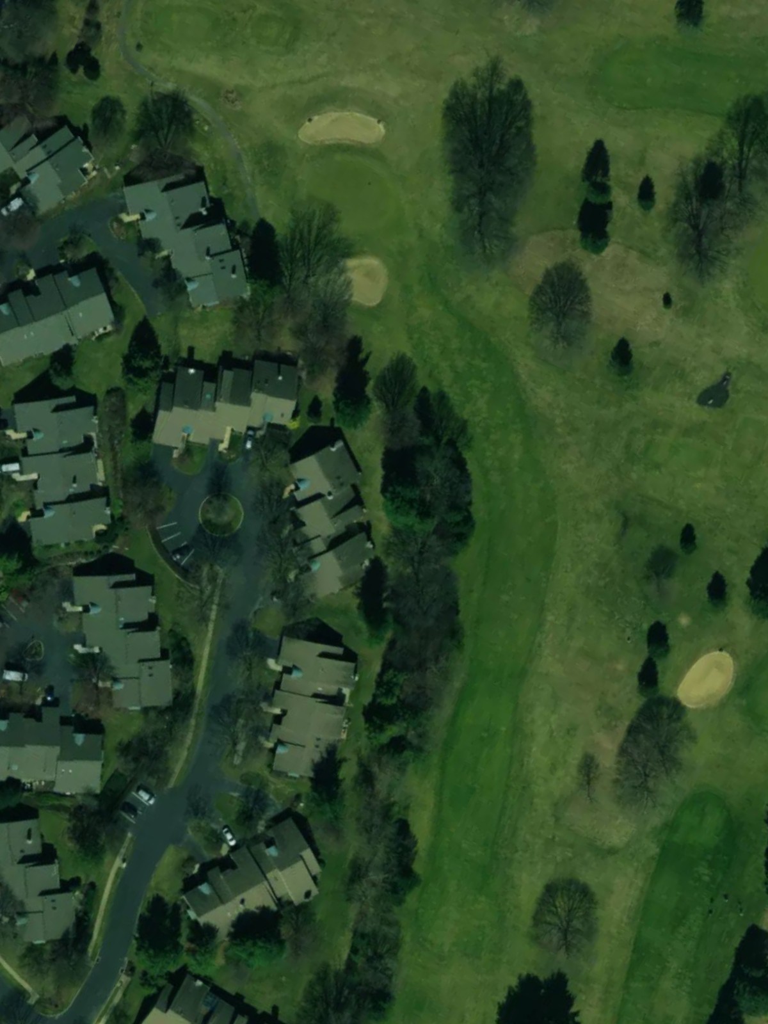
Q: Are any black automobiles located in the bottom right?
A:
No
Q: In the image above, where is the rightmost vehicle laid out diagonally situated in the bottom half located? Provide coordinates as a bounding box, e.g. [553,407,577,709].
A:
[221,825,238,847]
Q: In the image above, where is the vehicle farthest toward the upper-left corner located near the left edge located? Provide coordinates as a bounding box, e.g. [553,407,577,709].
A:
[1,196,22,215]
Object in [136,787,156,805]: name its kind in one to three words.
car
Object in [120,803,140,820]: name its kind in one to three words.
car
